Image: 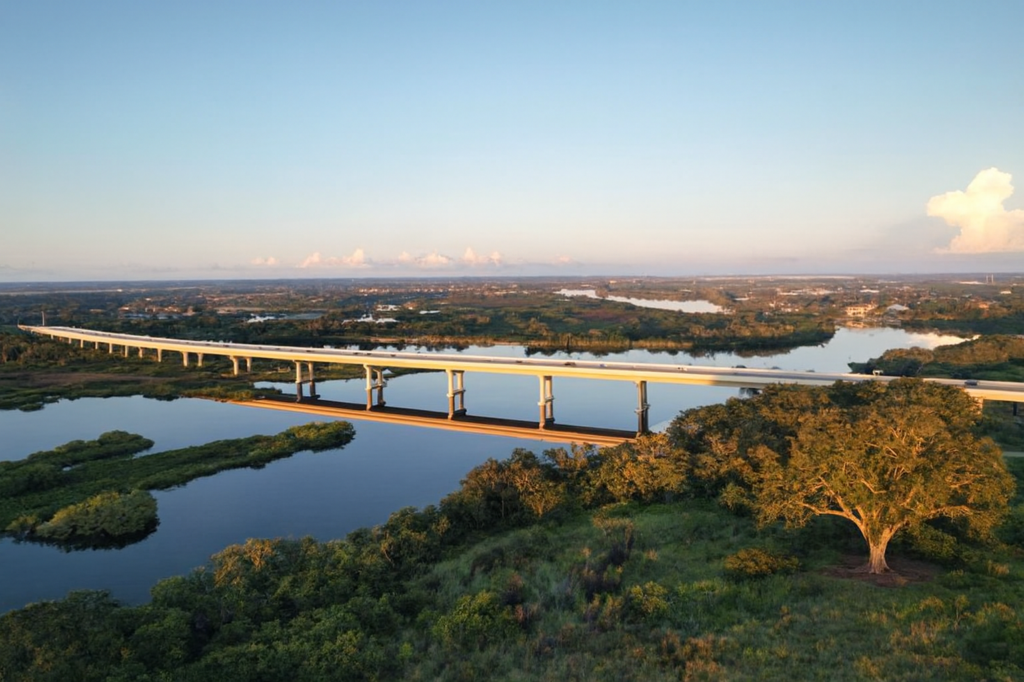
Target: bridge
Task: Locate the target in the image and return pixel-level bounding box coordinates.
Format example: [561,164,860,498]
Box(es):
[23,326,1024,410]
